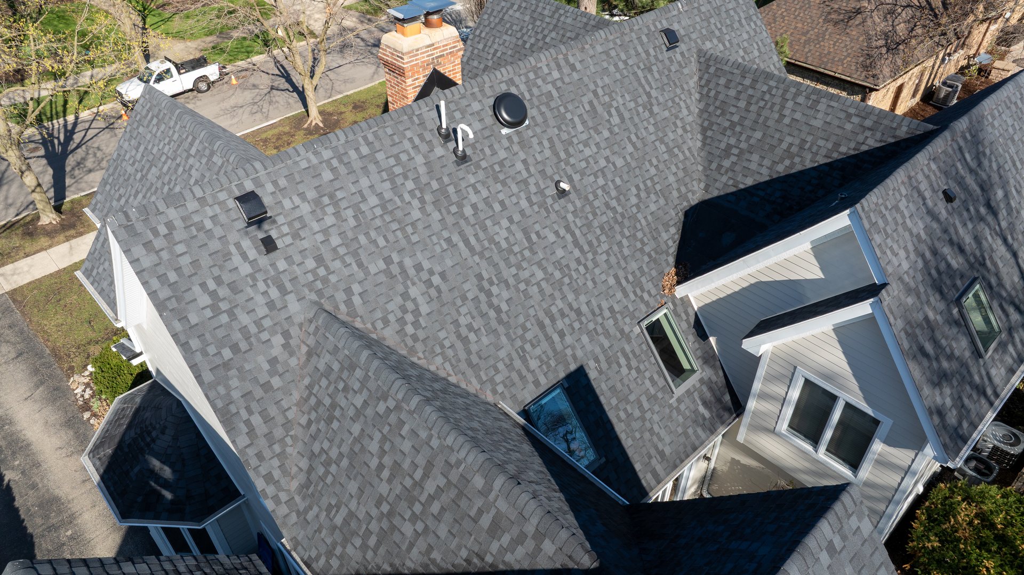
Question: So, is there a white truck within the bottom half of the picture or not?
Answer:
No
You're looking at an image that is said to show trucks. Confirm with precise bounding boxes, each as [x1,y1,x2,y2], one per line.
[113,55,224,107]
